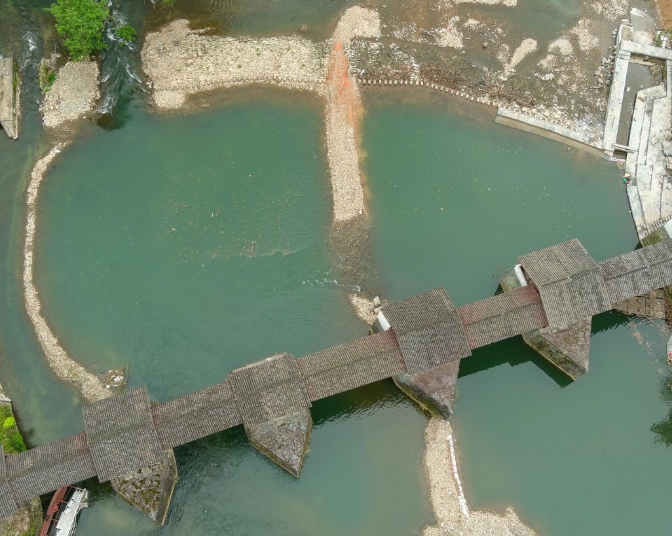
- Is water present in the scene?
Yes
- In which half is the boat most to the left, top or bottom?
bottom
